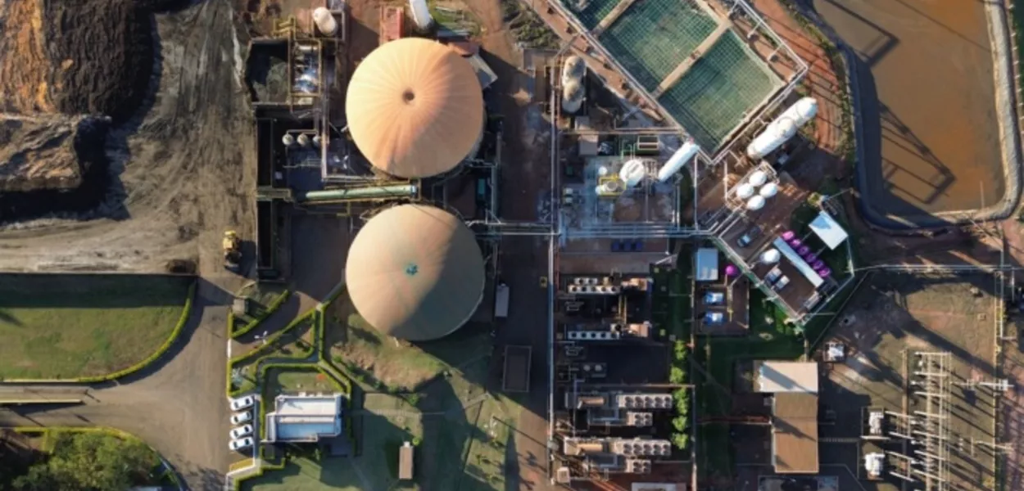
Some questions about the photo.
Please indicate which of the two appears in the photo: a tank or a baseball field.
tank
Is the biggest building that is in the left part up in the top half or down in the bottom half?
bottom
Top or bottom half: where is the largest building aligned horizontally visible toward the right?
bottom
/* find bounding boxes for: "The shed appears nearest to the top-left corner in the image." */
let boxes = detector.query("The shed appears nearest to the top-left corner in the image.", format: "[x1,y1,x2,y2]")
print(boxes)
[326,88,342,126]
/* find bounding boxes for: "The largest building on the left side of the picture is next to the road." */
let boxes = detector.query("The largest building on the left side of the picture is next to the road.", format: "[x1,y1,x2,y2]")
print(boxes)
[265,390,347,443]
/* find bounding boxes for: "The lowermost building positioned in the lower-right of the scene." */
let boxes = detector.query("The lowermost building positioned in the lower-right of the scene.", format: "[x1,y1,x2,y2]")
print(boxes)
[769,392,818,473]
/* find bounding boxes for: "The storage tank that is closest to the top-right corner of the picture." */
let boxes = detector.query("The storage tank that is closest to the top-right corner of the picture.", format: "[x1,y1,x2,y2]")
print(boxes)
[770,99,817,130]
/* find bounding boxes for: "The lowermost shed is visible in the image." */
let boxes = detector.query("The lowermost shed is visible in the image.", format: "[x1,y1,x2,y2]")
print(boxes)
[398,445,414,480]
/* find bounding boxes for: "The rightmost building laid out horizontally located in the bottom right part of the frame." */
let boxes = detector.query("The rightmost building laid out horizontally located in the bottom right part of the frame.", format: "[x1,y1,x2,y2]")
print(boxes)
[750,362,819,392]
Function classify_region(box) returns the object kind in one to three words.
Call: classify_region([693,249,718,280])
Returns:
shed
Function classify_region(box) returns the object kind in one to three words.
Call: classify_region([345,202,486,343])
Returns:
storage tank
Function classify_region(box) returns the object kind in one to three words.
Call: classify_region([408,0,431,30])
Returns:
silo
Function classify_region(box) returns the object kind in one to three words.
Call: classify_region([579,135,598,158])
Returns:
shed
